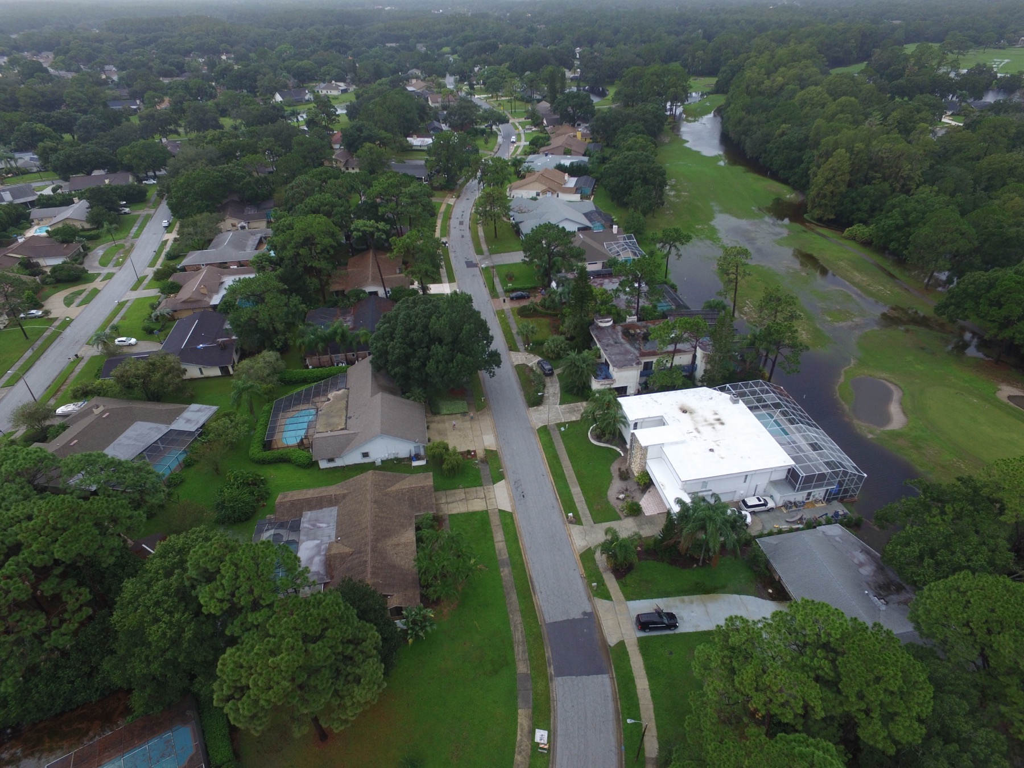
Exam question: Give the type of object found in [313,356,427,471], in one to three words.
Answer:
house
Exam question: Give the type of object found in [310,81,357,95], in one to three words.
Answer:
house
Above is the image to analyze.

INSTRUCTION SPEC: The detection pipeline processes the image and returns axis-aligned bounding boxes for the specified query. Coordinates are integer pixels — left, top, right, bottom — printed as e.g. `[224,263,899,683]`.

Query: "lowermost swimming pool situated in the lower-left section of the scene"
[107,725,196,768]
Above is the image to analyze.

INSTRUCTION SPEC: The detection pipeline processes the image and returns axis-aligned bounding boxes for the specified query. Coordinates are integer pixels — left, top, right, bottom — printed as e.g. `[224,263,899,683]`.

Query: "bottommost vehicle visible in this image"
[636,603,681,632]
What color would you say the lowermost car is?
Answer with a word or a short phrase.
black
